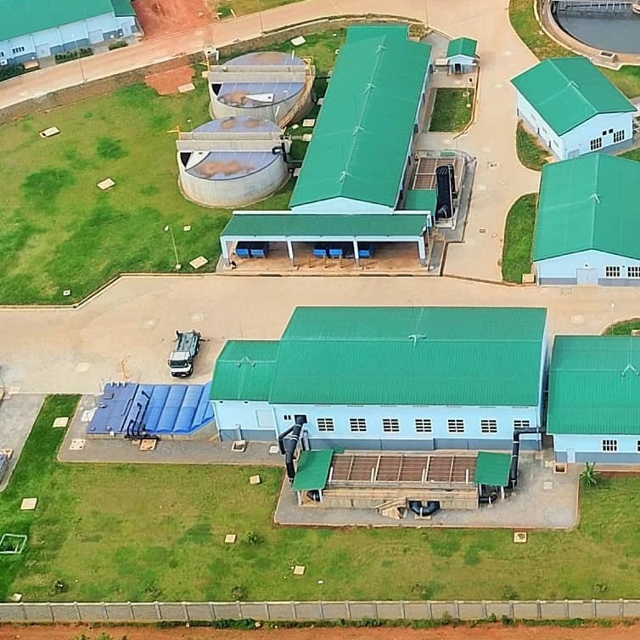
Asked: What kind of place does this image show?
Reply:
industrial area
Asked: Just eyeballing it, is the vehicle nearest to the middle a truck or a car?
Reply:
truck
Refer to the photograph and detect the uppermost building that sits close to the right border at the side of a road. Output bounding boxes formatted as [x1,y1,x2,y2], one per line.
[506,55,638,162]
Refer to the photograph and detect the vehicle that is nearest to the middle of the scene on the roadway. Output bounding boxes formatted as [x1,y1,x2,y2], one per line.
[160,319,214,373]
